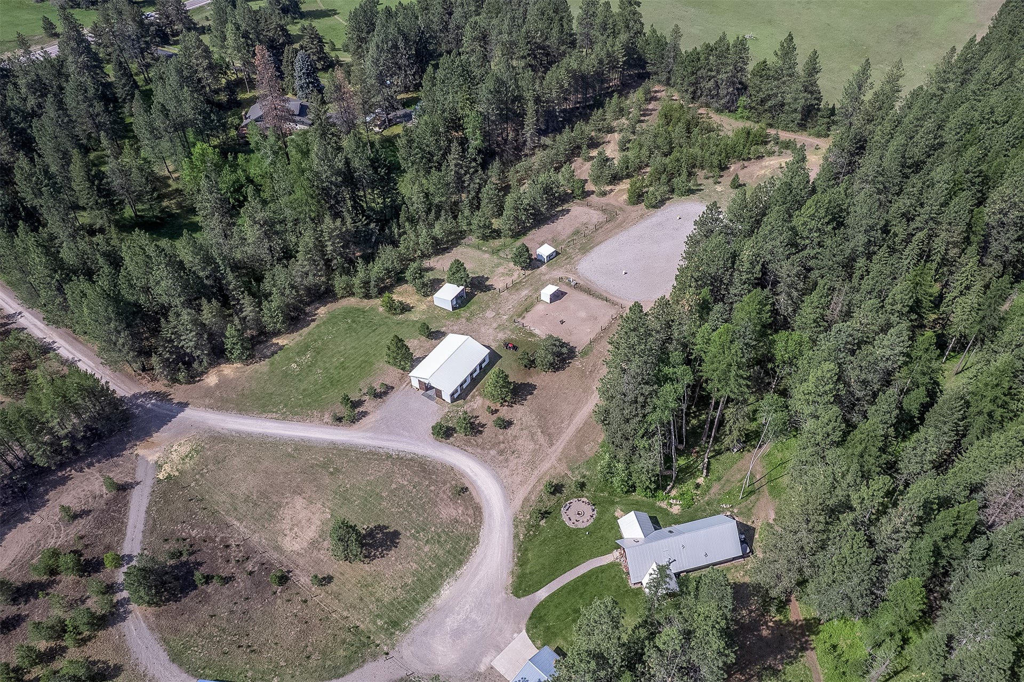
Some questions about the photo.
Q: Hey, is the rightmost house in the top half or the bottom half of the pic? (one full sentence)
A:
The rightmost house is in the bottom half of the image.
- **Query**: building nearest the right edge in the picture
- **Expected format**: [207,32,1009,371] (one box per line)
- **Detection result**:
[610,511,751,603]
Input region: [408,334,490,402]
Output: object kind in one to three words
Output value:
barn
